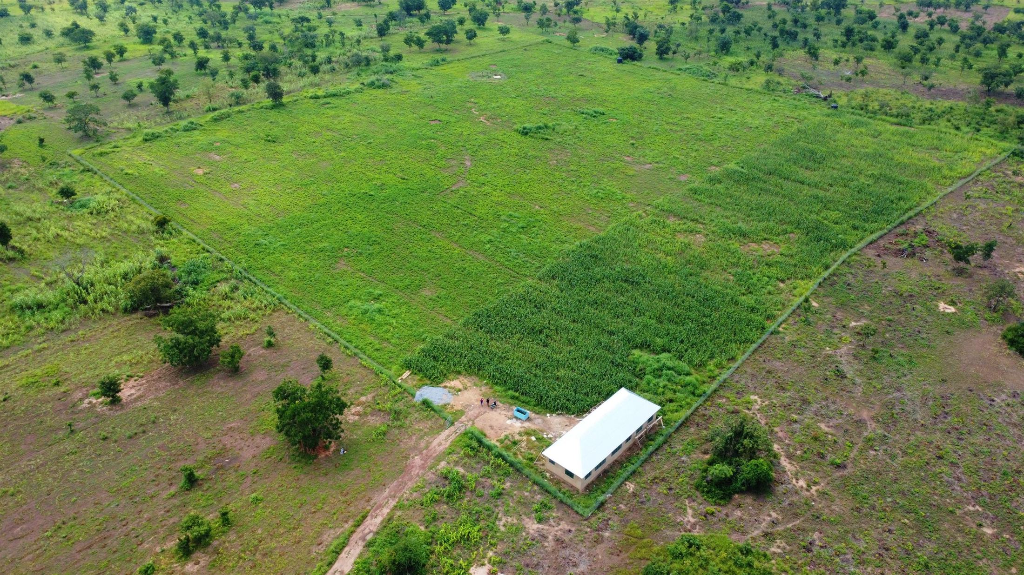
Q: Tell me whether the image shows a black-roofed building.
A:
No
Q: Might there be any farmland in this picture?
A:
Yes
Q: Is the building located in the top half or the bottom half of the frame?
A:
bottom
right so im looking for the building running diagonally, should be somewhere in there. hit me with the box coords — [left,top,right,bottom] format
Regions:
[543,388,661,492]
